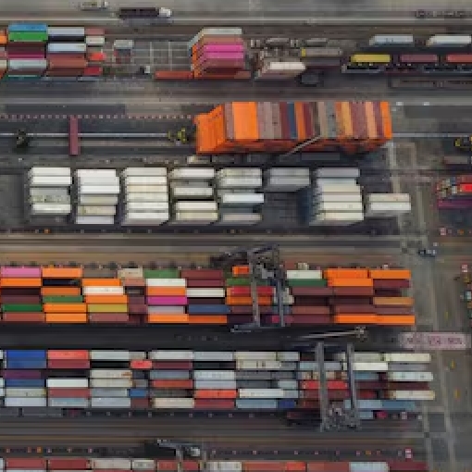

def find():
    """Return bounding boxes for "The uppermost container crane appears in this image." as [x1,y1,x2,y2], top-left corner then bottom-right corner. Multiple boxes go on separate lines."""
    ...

[217,246,301,330]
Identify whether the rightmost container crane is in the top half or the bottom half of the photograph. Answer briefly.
bottom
